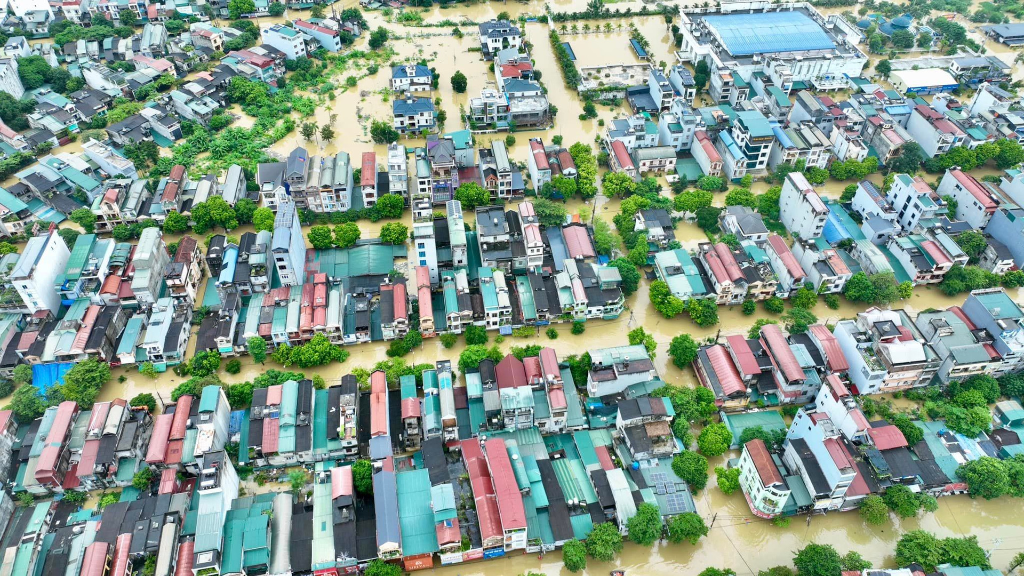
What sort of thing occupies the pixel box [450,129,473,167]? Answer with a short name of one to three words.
house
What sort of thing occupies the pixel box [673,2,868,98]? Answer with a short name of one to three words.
building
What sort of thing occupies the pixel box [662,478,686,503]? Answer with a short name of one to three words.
solar panel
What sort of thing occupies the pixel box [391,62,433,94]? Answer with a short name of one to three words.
house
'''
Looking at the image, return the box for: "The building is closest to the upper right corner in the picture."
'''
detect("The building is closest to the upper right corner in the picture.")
[981,23,1024,51]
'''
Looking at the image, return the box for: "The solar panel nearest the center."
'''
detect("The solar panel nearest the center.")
[448,201,463,225]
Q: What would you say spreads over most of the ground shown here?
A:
buildings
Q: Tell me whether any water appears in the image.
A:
Yes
